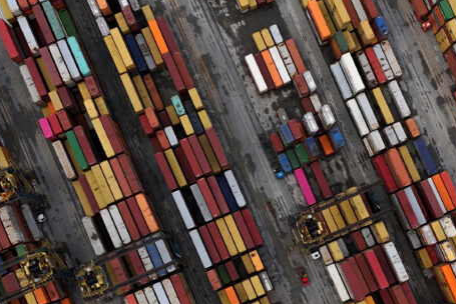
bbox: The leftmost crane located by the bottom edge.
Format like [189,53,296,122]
[0,234,82,303]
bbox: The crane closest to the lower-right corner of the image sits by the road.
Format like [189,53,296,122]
[280,174,401,253]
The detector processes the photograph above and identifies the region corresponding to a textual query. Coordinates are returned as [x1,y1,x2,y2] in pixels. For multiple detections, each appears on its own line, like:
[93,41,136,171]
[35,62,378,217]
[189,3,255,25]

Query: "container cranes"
[0,234,82,303]
[69,221,191,304]
[280,174,401,253]
[0,163,53,207]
